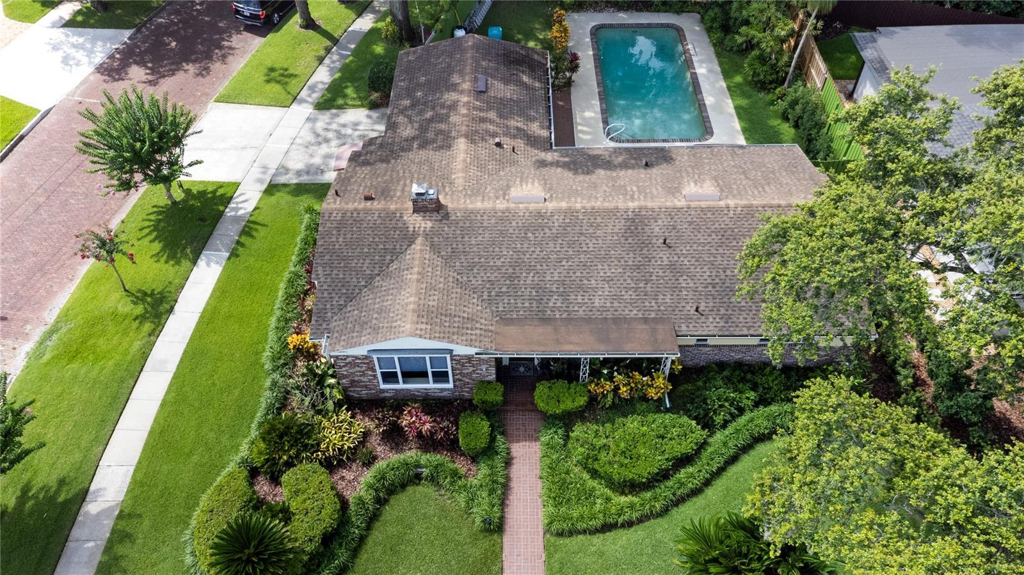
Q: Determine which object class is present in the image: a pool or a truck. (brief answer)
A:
pool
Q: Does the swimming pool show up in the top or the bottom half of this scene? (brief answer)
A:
top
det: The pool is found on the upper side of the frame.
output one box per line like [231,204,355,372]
[591,23,714,141]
